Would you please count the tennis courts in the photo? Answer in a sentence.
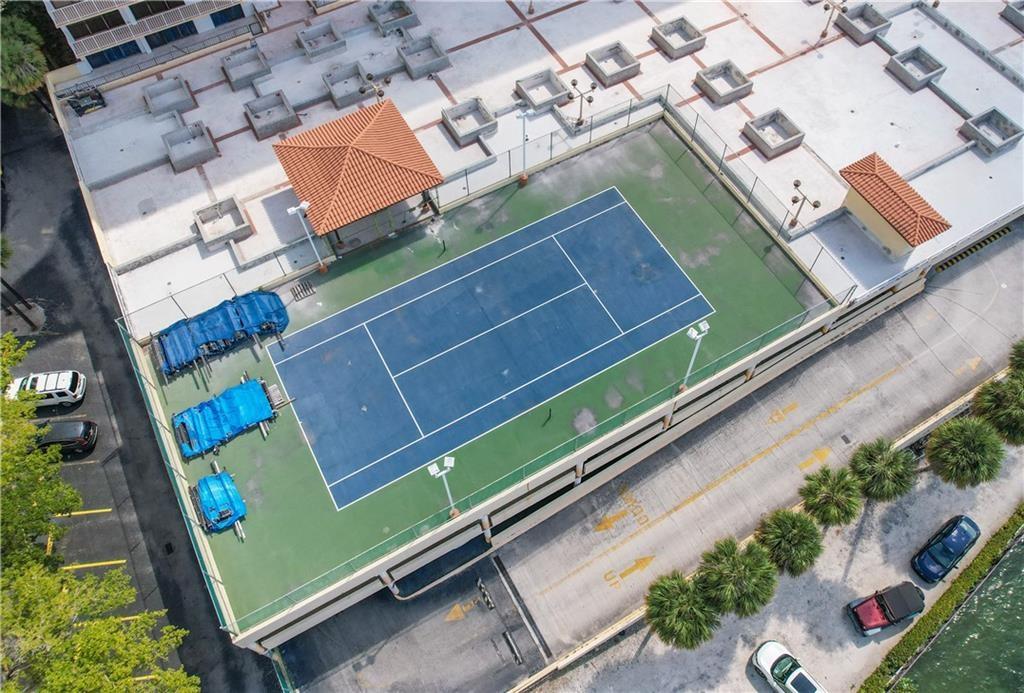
In total, there is 1 tennis court in the scene.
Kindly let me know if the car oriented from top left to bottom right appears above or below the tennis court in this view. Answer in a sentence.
In the image, the car oriented from top left to bottom right sits below the tennis court.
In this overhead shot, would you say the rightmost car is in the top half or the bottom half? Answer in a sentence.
It is in the bottom half that the rightmost car appears.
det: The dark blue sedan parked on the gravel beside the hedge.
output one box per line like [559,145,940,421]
[909,512,983,588]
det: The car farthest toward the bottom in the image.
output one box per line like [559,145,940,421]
[748,641,828,693]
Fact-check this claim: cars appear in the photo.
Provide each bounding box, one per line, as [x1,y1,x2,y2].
[909,512,983,588]
[5,377,88,416]
[844,580,930,636]
[29,424,99,460]
[748,641,828,693]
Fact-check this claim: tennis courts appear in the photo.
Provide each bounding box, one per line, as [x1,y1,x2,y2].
[153,119,838,629]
